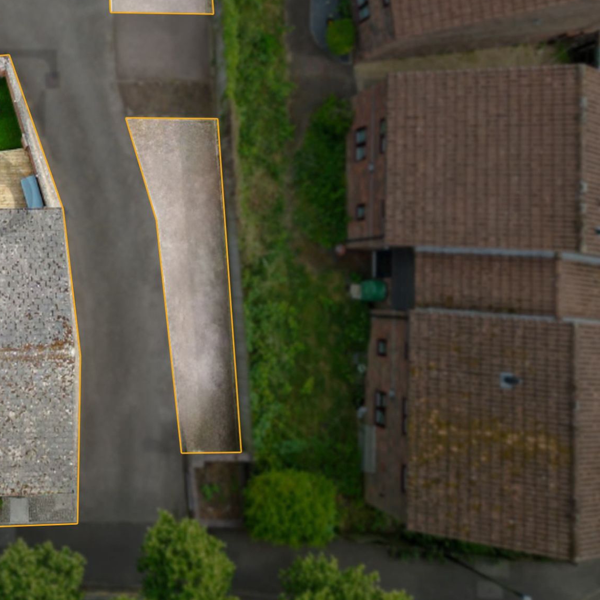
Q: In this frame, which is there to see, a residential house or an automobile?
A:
residential house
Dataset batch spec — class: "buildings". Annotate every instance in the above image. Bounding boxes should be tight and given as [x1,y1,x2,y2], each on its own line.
[350,0,600,69]
[369,306,600,563]
[0,207,80,498]
[346,63,600,257]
